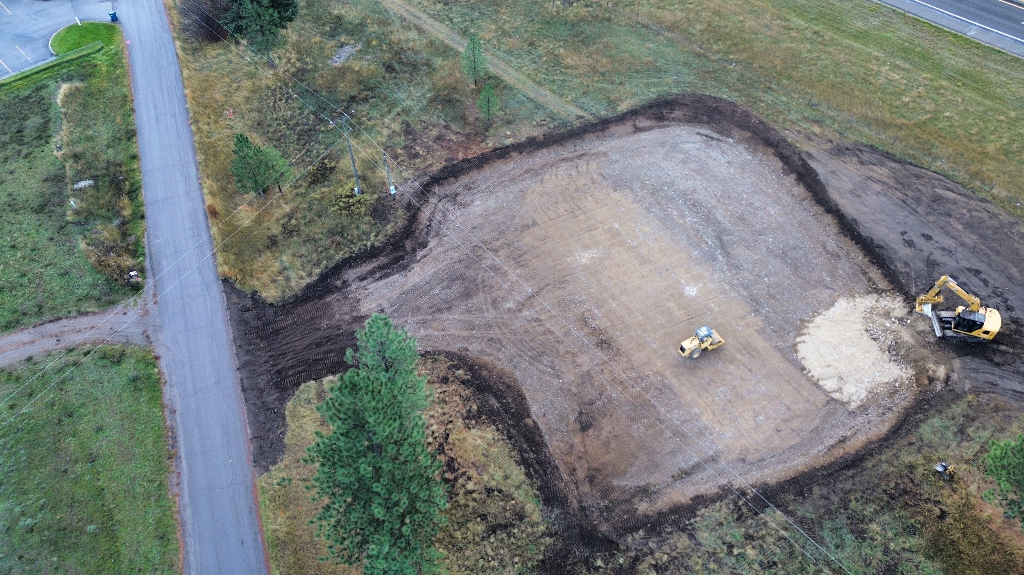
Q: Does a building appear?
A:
No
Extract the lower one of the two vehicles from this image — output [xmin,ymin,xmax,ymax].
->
[679,326,727,363]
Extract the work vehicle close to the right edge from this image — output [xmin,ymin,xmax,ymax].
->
[912,274,1004,341]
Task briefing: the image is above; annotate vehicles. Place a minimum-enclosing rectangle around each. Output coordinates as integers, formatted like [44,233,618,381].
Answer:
[679,326,727,363]
[912,274,1004,341]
